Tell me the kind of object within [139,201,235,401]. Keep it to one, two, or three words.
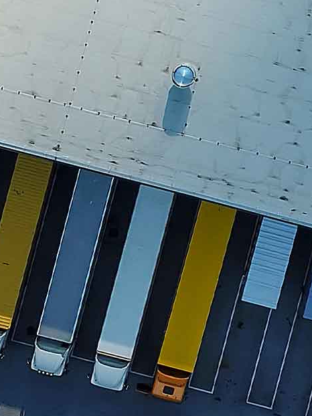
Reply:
truck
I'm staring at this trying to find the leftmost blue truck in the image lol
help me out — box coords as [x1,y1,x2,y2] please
[28,169,117,374]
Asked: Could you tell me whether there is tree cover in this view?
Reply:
No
